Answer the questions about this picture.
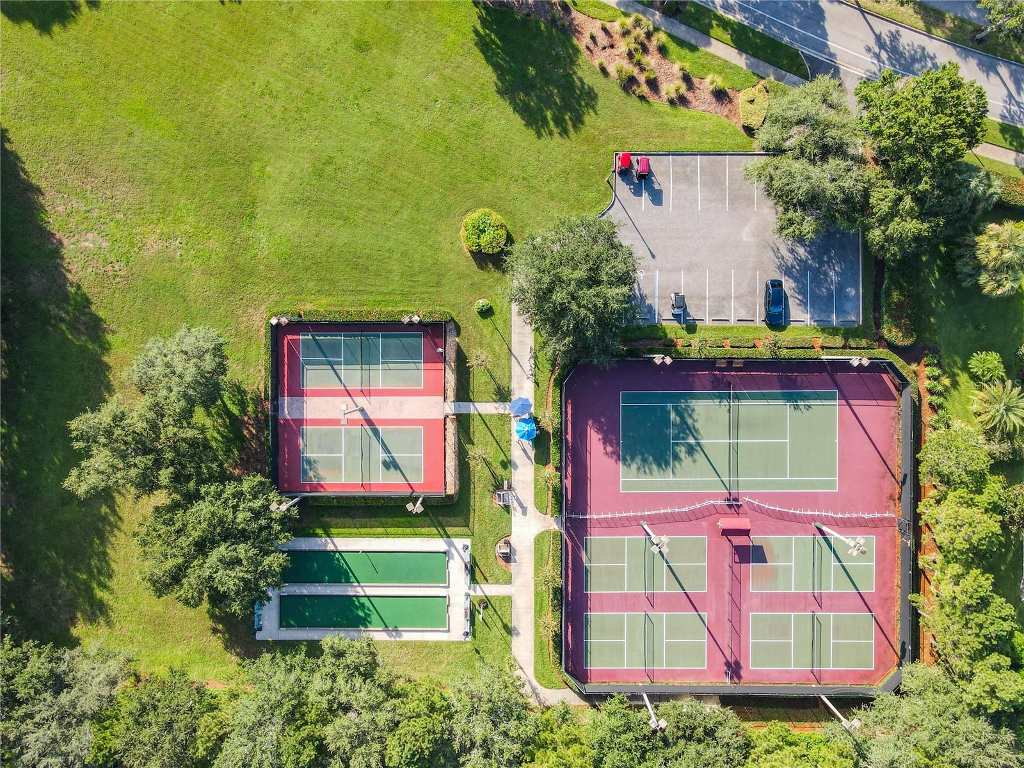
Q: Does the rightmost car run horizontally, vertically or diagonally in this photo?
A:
vertically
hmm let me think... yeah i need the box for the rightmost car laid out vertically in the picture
[765,280,787,325]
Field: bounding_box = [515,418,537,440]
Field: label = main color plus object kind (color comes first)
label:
blue umbrella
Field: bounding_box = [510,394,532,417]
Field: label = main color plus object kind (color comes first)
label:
blue umbrella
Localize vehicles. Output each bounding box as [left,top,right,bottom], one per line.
[616,155,630,179]
[635,158,649,182]
[765,280,787,325]
[670,293,685,315]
